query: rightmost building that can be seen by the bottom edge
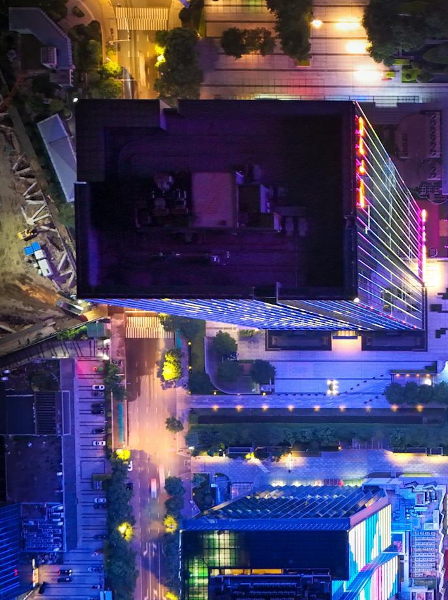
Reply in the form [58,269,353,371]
[362,472,448,600]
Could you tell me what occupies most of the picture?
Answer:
buildings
